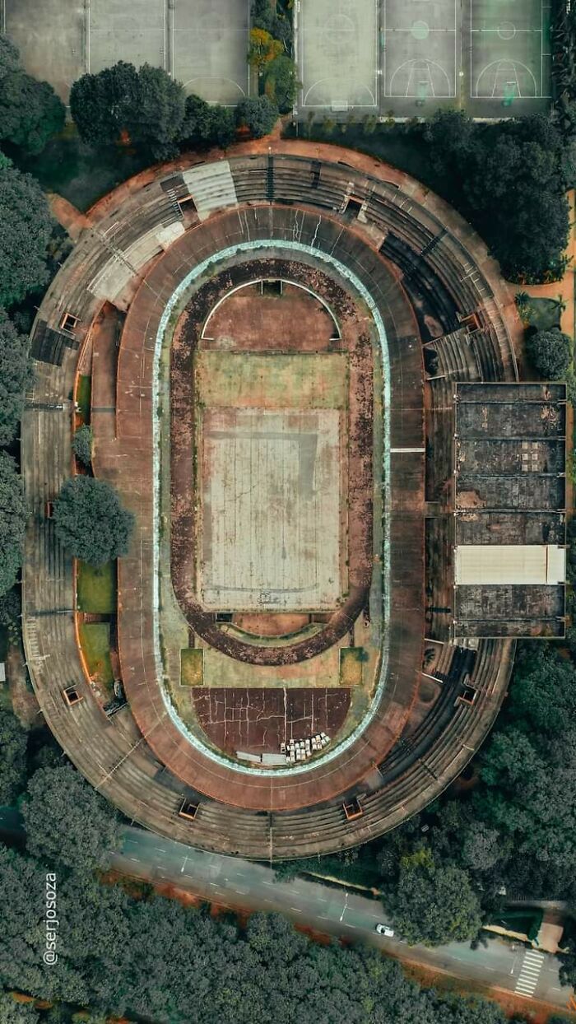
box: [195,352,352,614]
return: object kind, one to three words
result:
sports field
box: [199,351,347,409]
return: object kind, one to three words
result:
sports field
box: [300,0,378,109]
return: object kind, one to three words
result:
sports court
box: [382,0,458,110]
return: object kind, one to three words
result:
basketball court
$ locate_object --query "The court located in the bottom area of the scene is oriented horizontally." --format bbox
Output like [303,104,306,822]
[192,688,351,757]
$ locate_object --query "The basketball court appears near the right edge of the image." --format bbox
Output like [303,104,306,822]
[469,0,551,110]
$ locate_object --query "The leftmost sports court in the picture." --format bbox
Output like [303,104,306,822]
[3,0,83,107]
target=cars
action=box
[375,924,393,936]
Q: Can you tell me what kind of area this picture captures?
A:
sports ground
